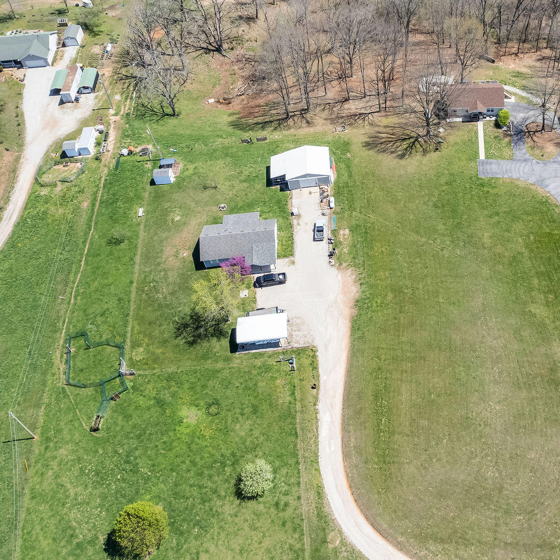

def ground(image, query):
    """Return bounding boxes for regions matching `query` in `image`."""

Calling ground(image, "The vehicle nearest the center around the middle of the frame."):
[255,270,285,285]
